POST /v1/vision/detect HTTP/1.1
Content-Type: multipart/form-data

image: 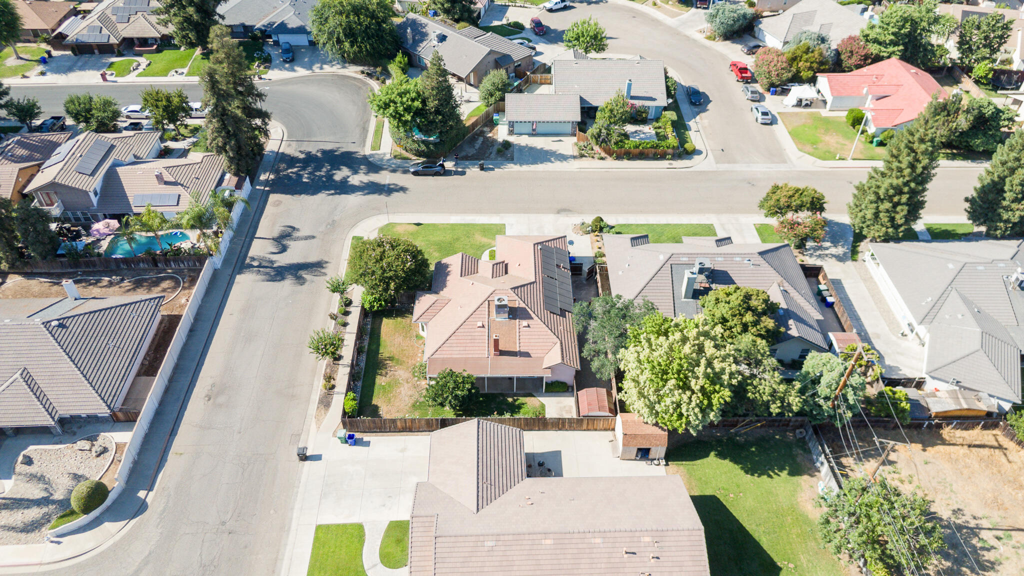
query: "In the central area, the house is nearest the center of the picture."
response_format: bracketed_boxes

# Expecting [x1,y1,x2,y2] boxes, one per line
[411,235,581,390]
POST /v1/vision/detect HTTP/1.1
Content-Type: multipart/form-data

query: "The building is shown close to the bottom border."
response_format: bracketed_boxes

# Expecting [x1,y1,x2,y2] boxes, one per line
[406,419,707,576]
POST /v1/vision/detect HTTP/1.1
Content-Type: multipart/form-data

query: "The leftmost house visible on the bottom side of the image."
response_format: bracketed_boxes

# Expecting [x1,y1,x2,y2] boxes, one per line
[0,285,164,440]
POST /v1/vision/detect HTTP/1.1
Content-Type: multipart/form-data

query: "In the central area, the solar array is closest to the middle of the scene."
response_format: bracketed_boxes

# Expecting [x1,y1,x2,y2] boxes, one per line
[542,240,576,331]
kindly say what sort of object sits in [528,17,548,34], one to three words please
car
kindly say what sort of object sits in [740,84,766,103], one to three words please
car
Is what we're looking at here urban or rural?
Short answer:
urban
